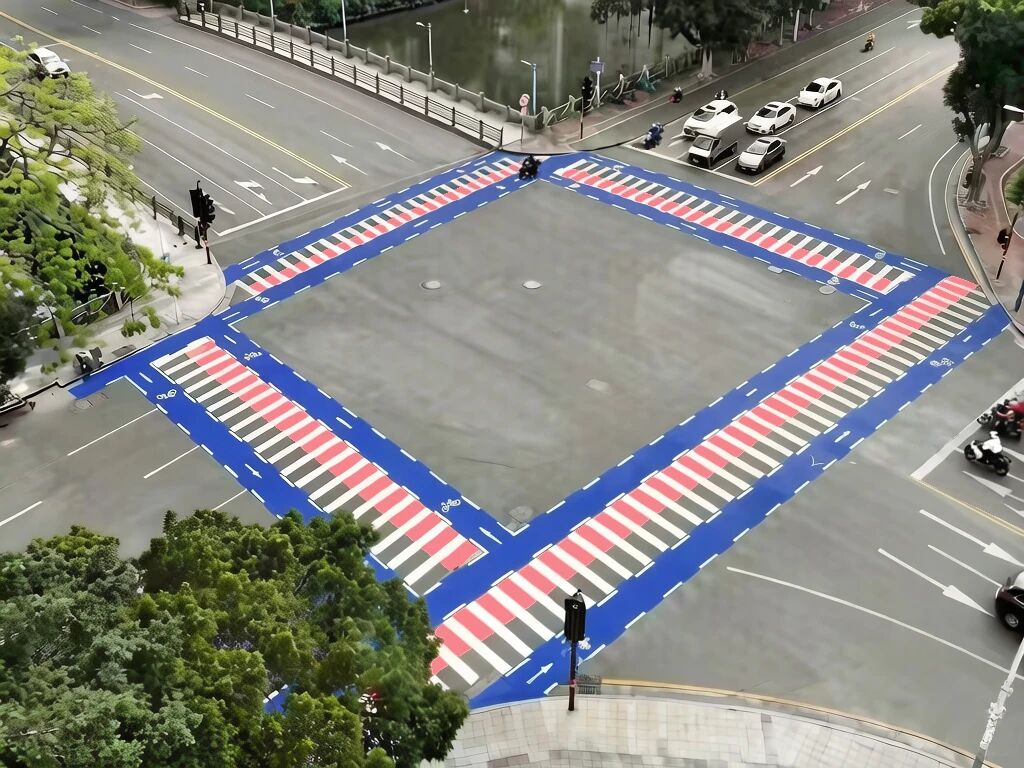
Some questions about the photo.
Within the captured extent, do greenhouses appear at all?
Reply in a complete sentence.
No, there is no greenhouse in the image.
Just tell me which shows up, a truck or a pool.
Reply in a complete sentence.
There is a truck in the scene.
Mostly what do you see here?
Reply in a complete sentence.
Most of the picture is covered by paved ground.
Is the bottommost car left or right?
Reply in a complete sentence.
The bottommost car is on the right side of the image.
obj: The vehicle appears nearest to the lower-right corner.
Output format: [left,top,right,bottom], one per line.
[992,579,1024,626]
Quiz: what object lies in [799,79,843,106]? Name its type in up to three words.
car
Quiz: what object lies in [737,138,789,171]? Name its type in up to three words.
car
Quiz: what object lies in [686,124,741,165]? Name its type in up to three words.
truck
